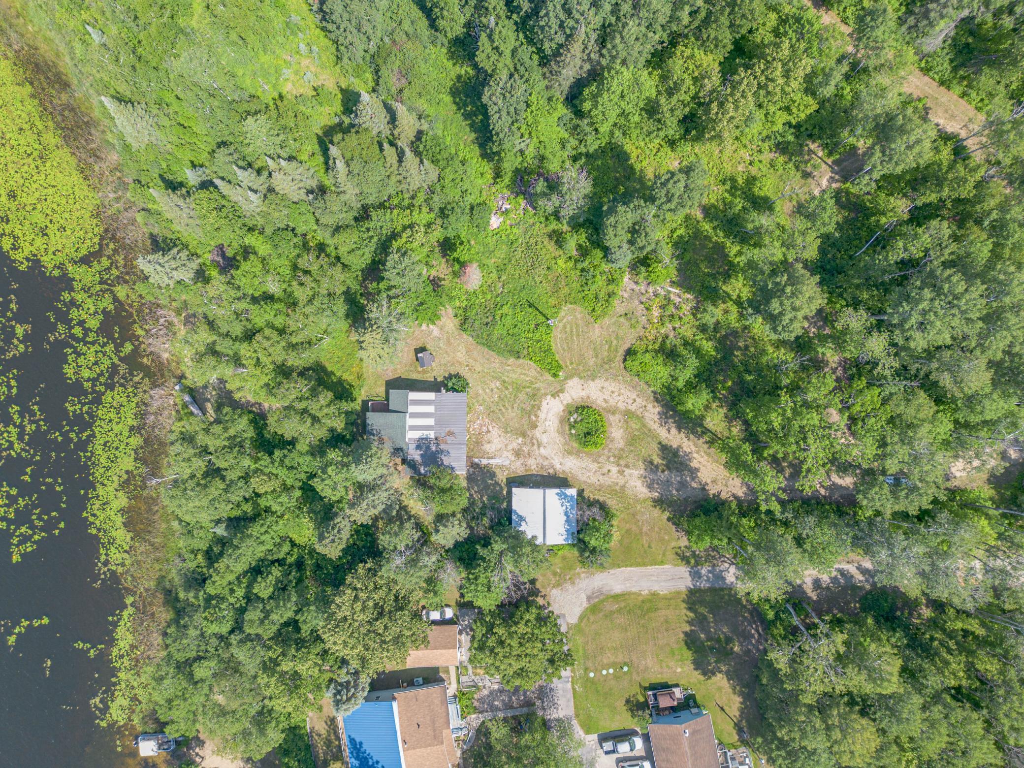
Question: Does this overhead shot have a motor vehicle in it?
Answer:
Yes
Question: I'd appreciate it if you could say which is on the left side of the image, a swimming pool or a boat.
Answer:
boat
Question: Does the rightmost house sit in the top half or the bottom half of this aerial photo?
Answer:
bottom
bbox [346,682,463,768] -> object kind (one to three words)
house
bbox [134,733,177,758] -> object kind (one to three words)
boat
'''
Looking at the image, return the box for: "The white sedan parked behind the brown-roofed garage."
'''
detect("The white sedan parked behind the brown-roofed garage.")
[422,607,453,623]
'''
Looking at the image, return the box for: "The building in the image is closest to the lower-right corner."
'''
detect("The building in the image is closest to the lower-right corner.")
[647,708,720,768]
